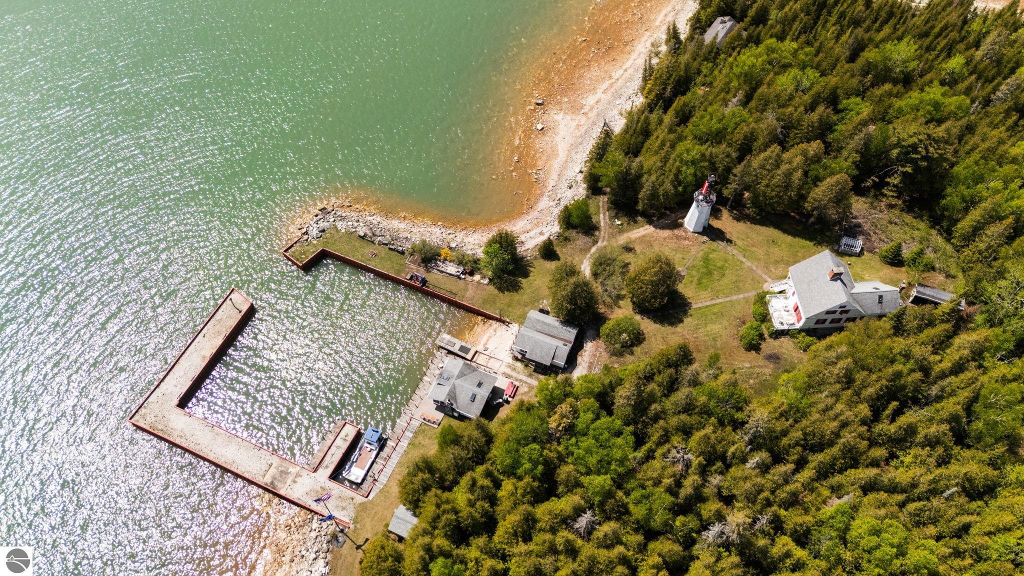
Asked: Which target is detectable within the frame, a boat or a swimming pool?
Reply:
boat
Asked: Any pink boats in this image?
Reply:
No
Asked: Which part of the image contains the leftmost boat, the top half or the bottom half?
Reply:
bottom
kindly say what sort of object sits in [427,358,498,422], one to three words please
building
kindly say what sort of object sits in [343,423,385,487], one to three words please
boat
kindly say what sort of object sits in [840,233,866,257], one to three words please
greenhouse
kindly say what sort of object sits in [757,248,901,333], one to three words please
house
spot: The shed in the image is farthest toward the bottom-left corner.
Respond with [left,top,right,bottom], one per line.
[388,506,424,534]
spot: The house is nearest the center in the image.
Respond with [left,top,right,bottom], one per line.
[508,310,582,371]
